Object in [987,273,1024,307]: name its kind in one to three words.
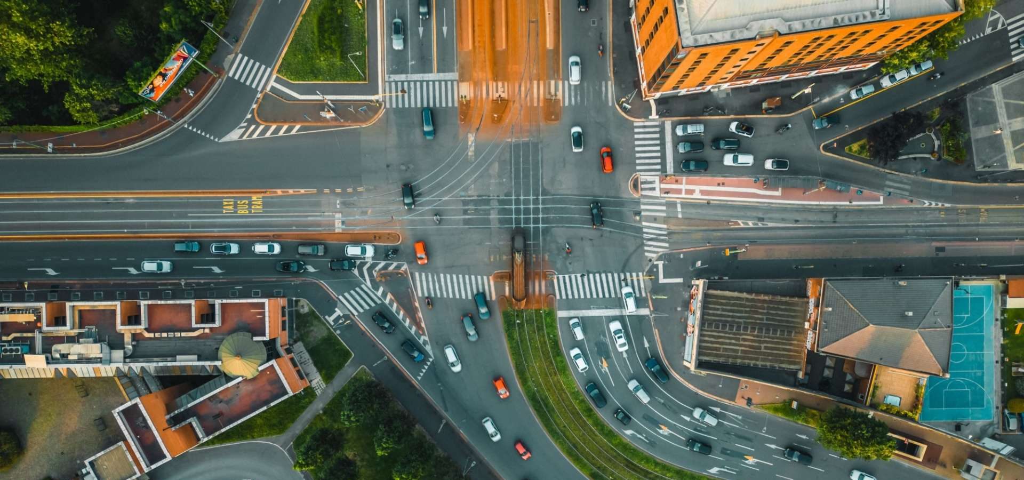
shed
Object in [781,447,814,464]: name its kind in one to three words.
car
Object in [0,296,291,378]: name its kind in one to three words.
building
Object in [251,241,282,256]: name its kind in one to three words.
car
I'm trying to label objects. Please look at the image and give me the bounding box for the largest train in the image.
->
[511,232,526,310]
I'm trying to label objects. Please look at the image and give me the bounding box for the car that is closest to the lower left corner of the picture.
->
[141,259,174,273]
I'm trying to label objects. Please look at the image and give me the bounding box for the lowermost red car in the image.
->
[513,438,533,463]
